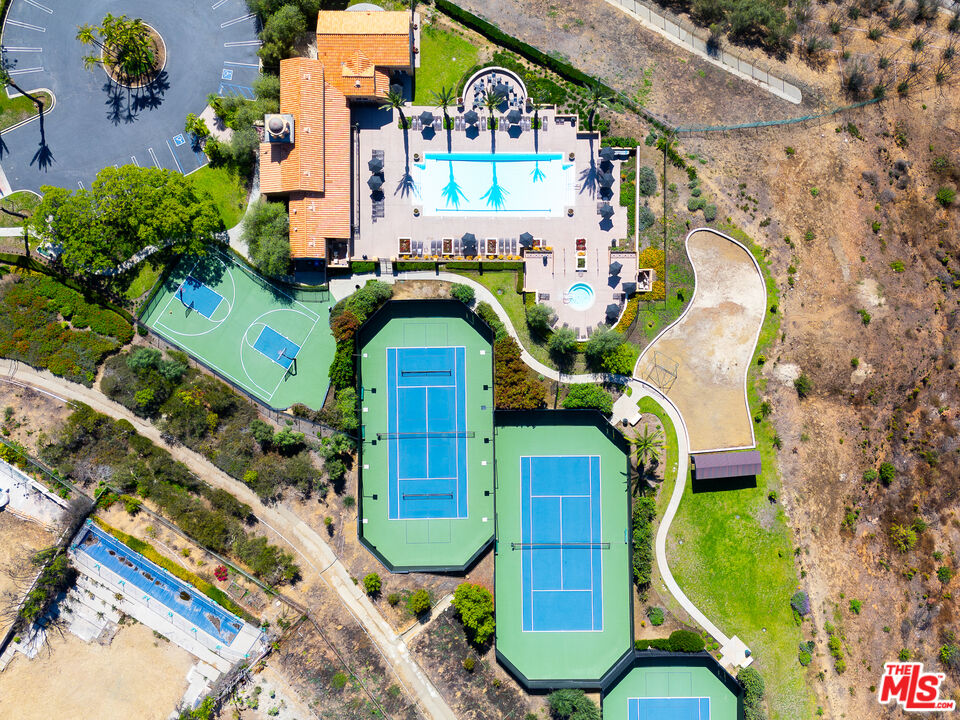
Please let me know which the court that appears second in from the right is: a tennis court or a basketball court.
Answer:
tennis court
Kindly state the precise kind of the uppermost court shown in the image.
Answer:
basketball court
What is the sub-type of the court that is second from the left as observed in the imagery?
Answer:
tennis court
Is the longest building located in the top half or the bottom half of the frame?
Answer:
top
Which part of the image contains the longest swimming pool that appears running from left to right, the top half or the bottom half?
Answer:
top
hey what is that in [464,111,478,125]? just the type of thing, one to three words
umbrella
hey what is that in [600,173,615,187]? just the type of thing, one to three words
umbrella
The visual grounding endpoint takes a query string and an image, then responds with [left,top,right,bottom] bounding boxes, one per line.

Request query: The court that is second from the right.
[496,412,631,680]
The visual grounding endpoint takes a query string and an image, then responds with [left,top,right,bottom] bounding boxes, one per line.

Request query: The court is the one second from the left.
[360,302,494,567]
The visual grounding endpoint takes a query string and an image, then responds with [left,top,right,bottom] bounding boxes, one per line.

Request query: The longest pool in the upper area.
[412,152,581,217]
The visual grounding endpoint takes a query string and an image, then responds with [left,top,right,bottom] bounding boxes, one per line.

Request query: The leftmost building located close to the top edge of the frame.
[259,10,412,270]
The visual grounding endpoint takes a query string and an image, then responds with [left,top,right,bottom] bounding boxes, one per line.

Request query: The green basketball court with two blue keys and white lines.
[141,249,337,411]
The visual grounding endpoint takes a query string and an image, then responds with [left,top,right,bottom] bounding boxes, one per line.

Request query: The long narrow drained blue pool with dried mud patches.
[72,526,245,648]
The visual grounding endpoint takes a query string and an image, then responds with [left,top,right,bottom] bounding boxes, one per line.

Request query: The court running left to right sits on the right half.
[602,668,738,720]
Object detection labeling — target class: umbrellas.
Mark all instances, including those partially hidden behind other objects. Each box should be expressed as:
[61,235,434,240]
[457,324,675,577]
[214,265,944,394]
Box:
[462,232,475,247]
[608,262,622,275]
[368,158,382,172]
[600,173,615,187]
[601,203,614,218]
[368,175,382,190]
[622,281,637,295]
[518,232,533,246]
[492,82,510,98]
[606,305,620,318]
[419,112,433,126]
[601,146,613,160]
[464,111,478,125]
[507,109,520,124]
